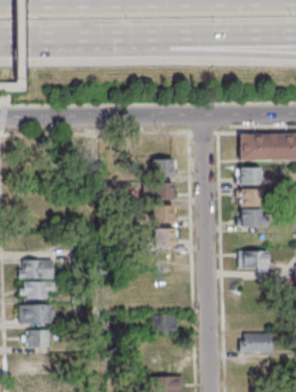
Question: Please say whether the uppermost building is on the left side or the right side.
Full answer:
It is on the right.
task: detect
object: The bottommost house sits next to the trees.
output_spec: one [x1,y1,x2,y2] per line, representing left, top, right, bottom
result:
[154,376,184,392]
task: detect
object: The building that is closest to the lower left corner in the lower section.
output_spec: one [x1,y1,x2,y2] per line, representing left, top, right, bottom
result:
[20,330,50,350]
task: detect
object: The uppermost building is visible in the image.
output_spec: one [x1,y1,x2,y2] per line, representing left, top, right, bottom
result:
[238,134,296,160]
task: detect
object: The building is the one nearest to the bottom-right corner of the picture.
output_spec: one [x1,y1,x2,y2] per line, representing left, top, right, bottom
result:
[238,333,273,354]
